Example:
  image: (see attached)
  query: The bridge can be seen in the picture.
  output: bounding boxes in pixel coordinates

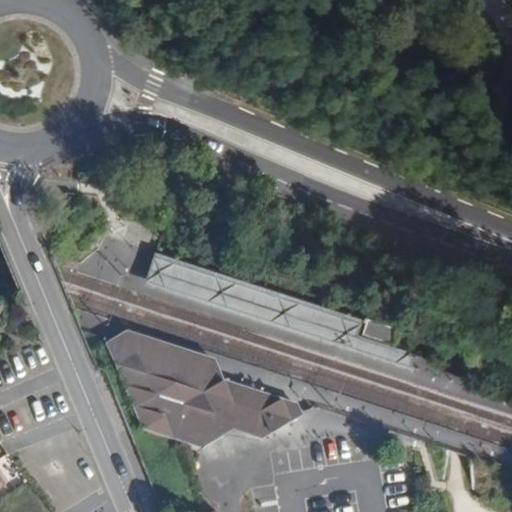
[0,230,79,323]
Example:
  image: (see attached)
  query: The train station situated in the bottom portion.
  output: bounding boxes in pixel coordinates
[66,226,512,468]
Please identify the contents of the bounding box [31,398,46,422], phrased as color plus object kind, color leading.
white car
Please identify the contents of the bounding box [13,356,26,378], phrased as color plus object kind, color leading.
white vehicle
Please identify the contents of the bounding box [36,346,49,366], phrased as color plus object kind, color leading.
white vehicle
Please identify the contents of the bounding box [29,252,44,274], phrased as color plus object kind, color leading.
white car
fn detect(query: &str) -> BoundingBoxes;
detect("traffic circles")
[0,0,114,166]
